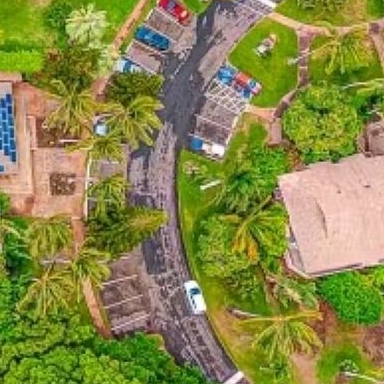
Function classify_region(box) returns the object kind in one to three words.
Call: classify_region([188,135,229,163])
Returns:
truck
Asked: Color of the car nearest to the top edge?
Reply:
red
